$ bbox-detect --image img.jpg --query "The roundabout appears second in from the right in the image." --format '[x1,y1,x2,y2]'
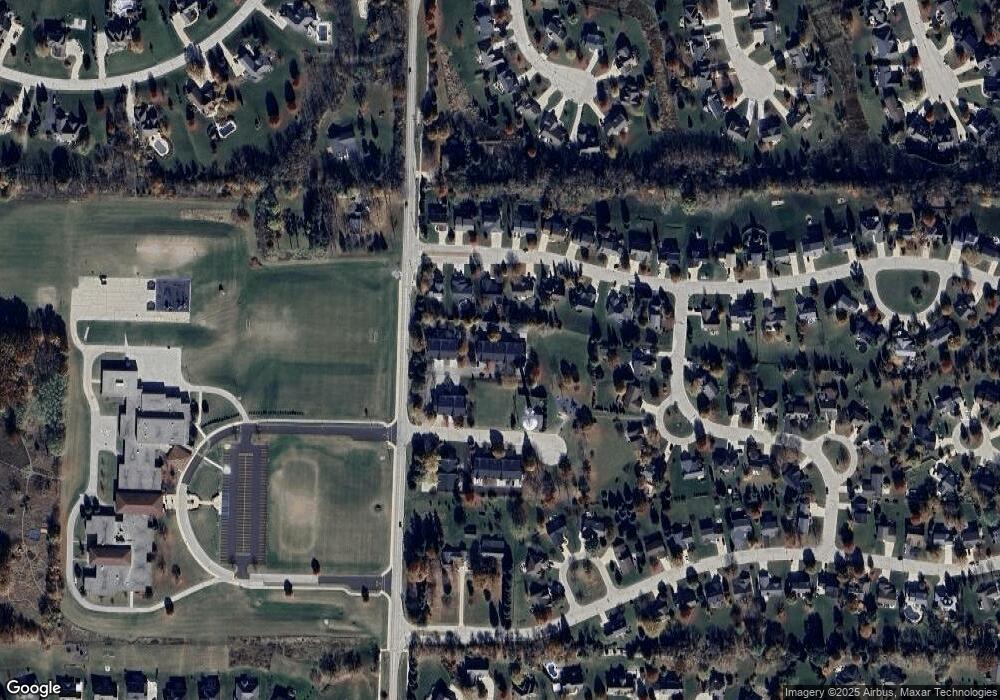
[865,268,949,323]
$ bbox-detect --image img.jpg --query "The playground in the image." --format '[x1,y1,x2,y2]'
[156,279,190,312]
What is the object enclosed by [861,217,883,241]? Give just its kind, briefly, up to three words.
house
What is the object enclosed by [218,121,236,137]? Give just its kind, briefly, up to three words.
swimming pool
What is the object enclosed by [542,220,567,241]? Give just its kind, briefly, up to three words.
house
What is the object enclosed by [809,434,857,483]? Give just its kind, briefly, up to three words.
roundabout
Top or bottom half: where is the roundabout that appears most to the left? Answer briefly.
bottom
